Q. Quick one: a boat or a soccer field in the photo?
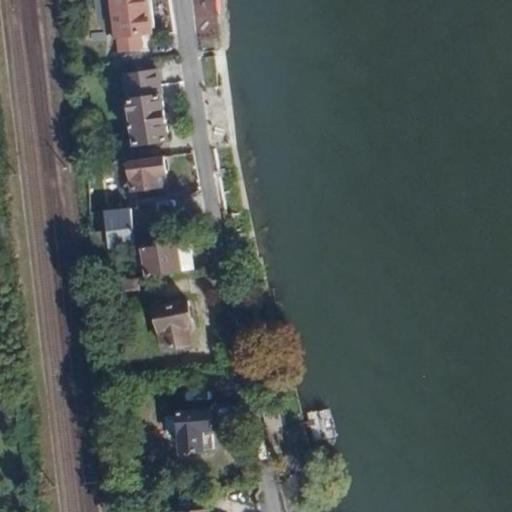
boat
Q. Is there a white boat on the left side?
No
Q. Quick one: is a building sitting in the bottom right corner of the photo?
No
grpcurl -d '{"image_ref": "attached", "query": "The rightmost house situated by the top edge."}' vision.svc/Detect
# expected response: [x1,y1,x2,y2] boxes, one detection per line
[193,0,225,54]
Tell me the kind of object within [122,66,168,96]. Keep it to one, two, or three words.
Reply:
house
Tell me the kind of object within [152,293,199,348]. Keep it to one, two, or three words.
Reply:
house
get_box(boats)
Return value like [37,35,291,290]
[306,408,339,446]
